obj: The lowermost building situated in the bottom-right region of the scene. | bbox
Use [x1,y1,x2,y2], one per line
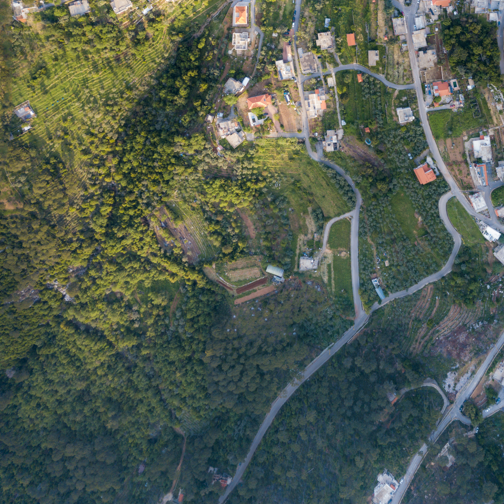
[375,469,397,504]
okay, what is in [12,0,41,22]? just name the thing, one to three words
house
